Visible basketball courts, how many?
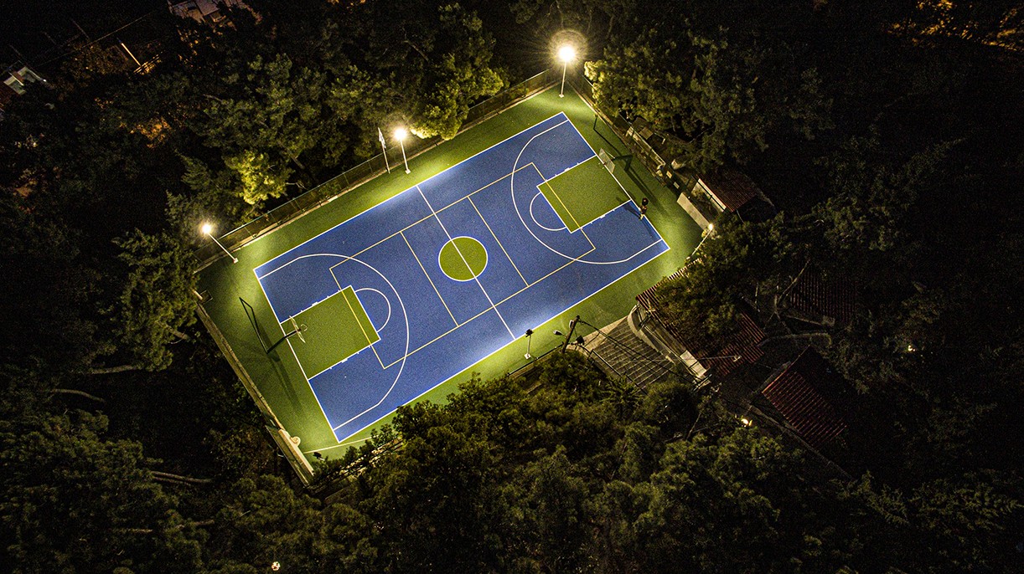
1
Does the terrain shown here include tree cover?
Yes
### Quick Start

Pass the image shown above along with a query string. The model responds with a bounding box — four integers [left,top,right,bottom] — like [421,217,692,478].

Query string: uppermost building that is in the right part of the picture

[688,148,780,222]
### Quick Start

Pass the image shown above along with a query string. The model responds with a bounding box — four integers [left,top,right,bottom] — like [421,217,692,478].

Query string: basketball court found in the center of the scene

[194,82,707,489]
